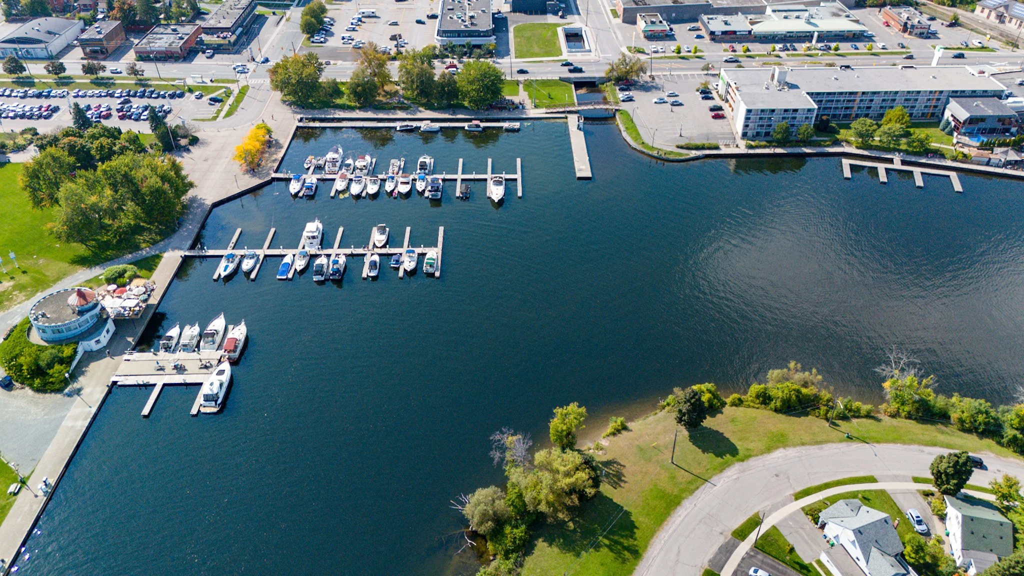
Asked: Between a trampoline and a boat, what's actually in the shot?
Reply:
boat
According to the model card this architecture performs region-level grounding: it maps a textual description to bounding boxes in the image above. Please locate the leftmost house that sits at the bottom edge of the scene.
[813,496,912,576]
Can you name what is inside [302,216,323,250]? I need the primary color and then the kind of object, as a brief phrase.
white boat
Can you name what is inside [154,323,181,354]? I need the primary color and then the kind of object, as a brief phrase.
white boat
